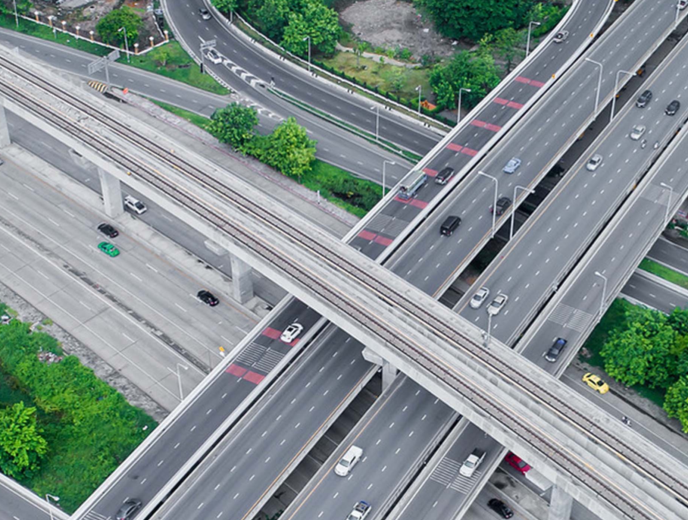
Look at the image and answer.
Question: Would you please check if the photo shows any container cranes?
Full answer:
No, there isn't any container crane down there.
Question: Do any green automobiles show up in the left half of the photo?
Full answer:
Yes, a green automobile can be seen in the left half of the photo.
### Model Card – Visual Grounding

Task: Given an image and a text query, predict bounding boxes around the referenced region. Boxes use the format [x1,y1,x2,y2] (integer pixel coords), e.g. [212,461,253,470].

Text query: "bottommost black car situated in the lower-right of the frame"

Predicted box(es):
[485,497,517,520]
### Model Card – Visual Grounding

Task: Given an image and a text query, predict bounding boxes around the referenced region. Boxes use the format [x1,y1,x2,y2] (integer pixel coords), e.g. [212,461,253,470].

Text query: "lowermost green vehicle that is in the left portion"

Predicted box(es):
[97,241,120,258]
